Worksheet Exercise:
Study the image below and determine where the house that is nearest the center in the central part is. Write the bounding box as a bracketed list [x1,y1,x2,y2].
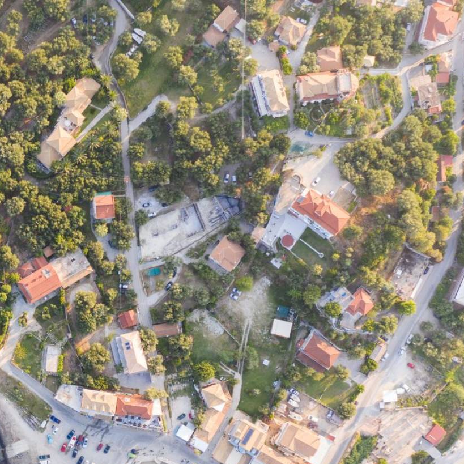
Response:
[208,236,245,272]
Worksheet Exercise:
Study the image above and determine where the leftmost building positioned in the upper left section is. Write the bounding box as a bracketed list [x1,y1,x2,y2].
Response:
[34,76,101,167]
